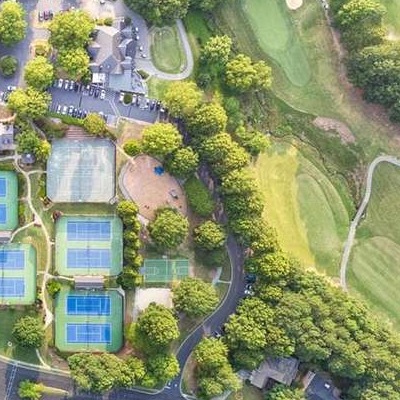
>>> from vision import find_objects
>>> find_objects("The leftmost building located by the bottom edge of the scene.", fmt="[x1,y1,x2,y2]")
[247,355,298,388]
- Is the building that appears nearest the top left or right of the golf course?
to the left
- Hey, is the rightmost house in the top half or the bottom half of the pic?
bottom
